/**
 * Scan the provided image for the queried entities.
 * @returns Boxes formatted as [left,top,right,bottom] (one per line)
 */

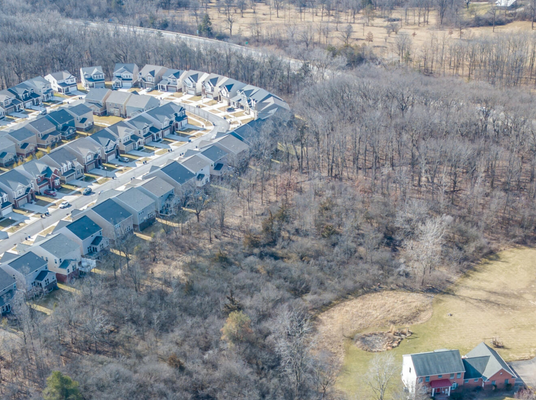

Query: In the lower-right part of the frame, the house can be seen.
[401,341,518,400]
